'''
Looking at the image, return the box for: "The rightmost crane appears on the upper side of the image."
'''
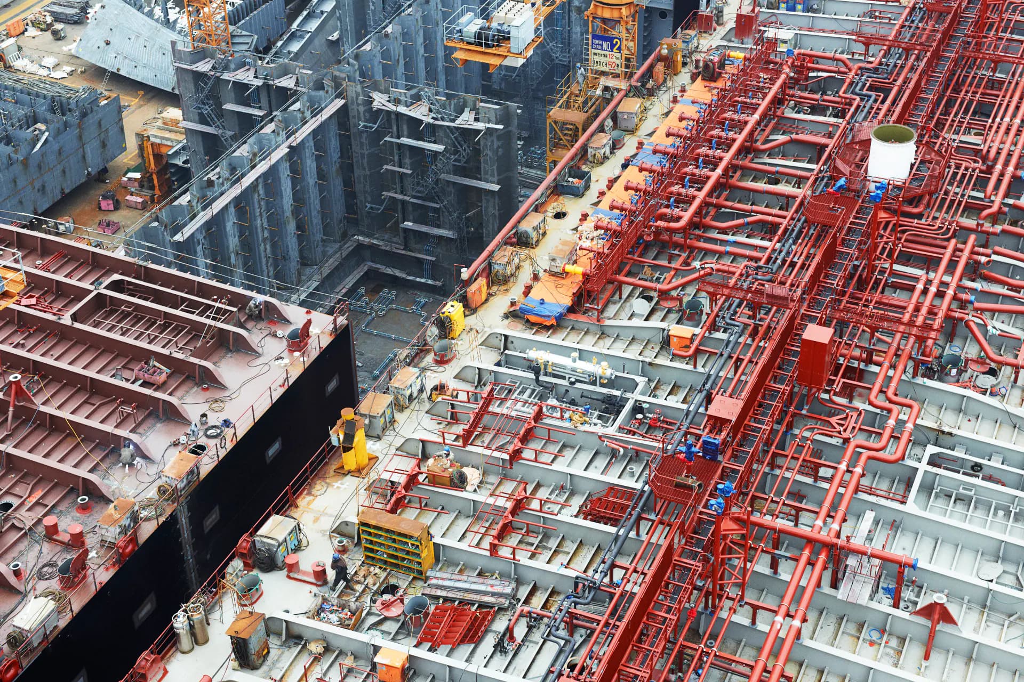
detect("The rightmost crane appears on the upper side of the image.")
[577,0,642,133]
